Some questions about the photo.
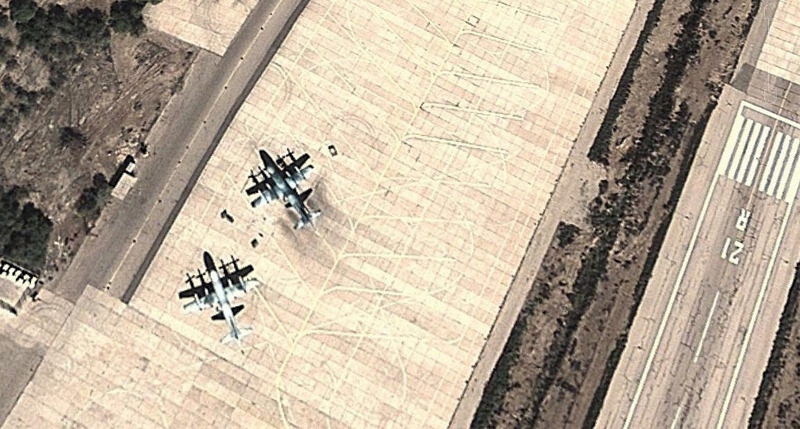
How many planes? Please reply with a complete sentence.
There are 2 planes in the image.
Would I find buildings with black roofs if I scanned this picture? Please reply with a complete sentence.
No, I can't see a single building with a black roof in this photo.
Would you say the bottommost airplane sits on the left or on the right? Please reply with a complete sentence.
You can find the bottommost airplane on the left side of the picture.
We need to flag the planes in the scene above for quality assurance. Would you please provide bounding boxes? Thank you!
[250,161,318,228]
[183,266,260,341]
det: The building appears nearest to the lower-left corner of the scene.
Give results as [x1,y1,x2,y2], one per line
[0,262,36,306]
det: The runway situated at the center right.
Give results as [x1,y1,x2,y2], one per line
[594,70,800,429]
